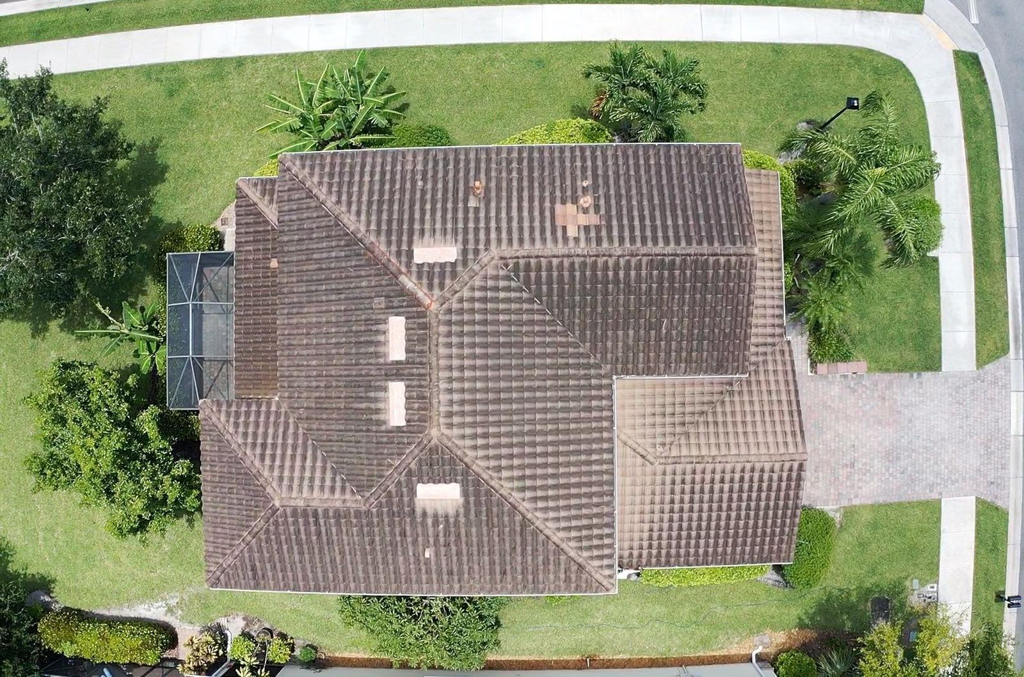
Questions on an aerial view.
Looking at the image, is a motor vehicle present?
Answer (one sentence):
No, the frame has no motor vehicle in it.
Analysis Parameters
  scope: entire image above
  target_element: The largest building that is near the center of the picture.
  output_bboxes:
[198,140,810,598]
